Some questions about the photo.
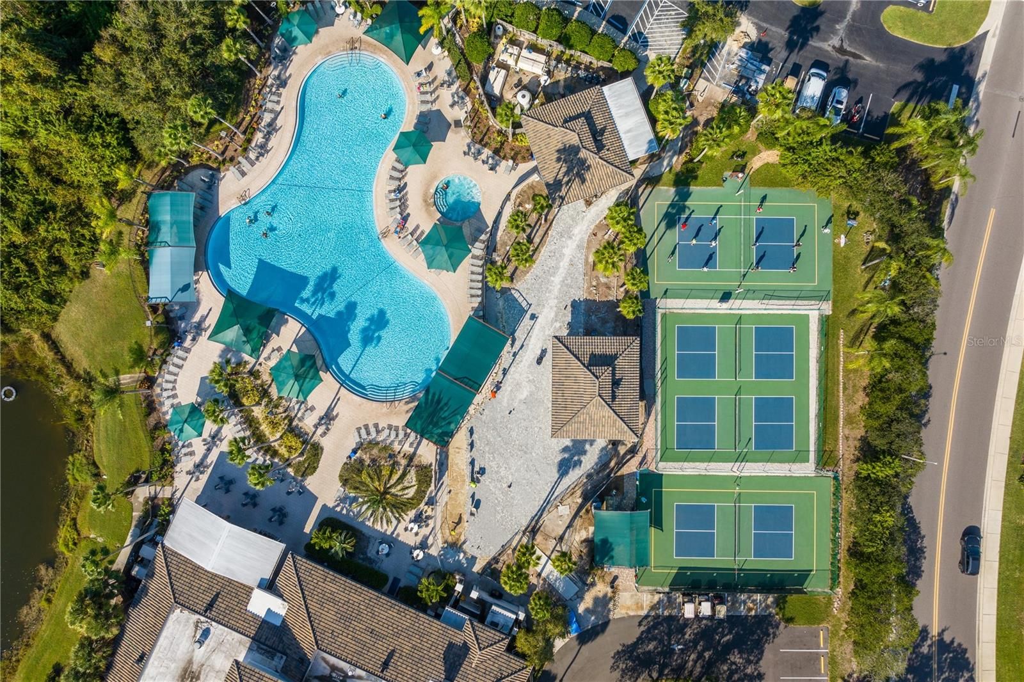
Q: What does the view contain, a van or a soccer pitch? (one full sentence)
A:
There is a van in the scene.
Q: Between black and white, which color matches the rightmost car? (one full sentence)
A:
The rightmost car looks black in the image.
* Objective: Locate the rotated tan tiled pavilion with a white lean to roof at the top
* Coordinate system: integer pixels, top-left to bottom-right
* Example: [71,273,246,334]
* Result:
[520,76,659,210]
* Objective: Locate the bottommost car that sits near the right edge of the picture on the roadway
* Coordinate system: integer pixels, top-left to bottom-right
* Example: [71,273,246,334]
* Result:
[957,529,983,572]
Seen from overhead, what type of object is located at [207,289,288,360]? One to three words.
umbrella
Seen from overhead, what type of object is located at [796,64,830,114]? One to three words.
van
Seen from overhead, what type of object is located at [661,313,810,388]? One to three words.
sports court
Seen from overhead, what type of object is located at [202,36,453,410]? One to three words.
swimming pool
